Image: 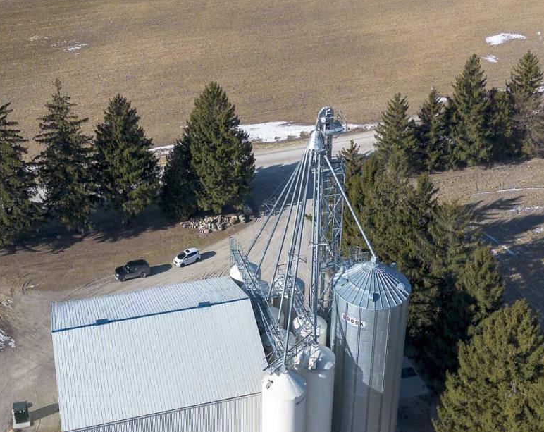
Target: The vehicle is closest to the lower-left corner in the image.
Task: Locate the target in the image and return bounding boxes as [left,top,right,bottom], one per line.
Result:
[113,258,150,278]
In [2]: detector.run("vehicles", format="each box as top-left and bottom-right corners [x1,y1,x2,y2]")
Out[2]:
[113,258,150,278]
[173,247,203,266]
